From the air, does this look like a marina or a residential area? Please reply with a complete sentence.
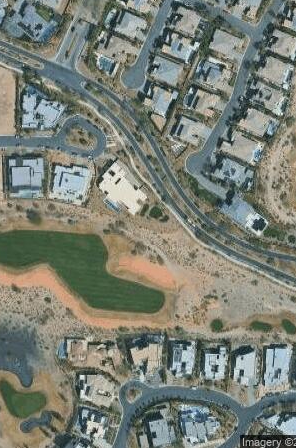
What you see here is a residential area.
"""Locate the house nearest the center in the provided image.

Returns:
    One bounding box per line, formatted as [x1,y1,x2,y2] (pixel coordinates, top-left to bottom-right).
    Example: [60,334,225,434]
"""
[88,155,152,223]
